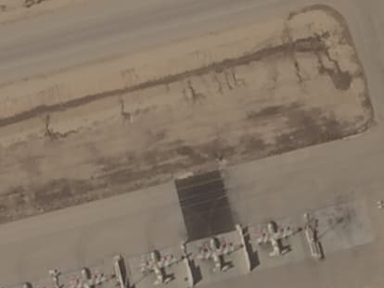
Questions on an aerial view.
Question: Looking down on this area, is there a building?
No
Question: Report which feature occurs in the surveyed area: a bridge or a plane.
plane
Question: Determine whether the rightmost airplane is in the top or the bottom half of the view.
bottom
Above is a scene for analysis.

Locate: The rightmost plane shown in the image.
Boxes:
[251,225,297,254]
